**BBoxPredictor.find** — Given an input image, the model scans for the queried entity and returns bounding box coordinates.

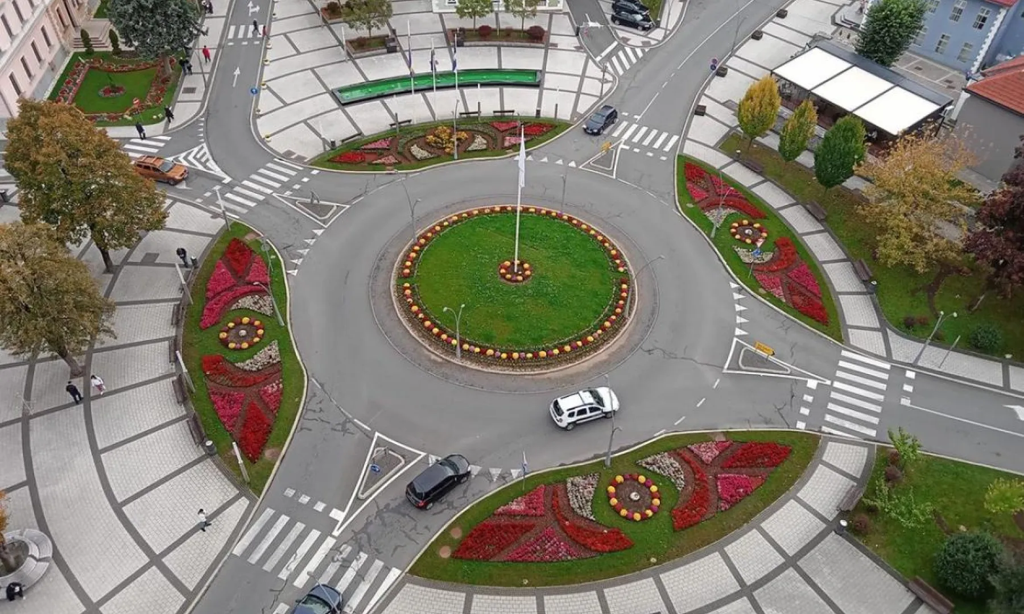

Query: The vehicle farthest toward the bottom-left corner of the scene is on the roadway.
[295,584,343,614]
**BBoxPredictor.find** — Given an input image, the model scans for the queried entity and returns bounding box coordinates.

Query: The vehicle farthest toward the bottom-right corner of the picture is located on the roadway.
[552,387,621,430]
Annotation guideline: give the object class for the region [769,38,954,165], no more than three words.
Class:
building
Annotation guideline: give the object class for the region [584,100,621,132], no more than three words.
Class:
car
